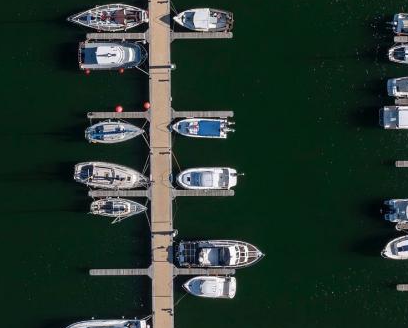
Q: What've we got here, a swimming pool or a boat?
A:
boat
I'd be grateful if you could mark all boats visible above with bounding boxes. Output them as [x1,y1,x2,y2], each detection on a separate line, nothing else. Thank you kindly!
[171,117,231,138]
[387,76,408,98]
[390,13,408,37]
[171,1,235,34]
[79,39,149,73]
[86,117,149,148]
[389,41,408,64]
[175,238,264,268]
[66,4,149,35]
[175,272,237,308]
[173,153,241,190]
[378,105,408,128]
[387,198,408,222]
[64,313,152,328]
[91,195,151,229]
[74,155,152,196]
